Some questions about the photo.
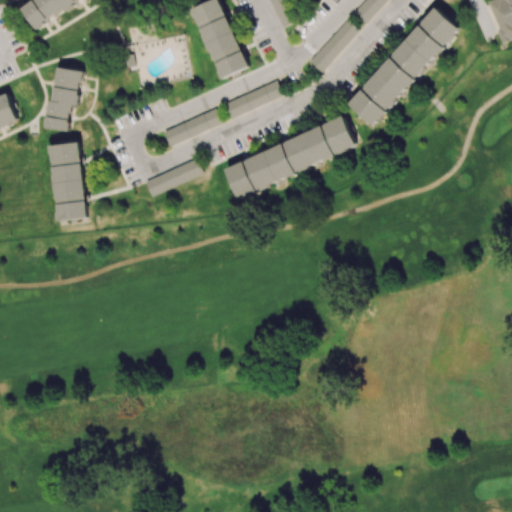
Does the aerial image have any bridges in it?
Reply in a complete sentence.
No, there appears to be no bridge in this shot.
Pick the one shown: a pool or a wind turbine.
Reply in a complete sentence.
Looking from above, you can make out a pool.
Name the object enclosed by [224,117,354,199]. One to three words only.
building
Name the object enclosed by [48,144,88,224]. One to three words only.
building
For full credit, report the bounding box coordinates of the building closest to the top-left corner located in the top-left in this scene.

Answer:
[20,0,94,33]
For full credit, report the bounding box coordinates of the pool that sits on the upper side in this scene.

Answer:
[130,28,193,86]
